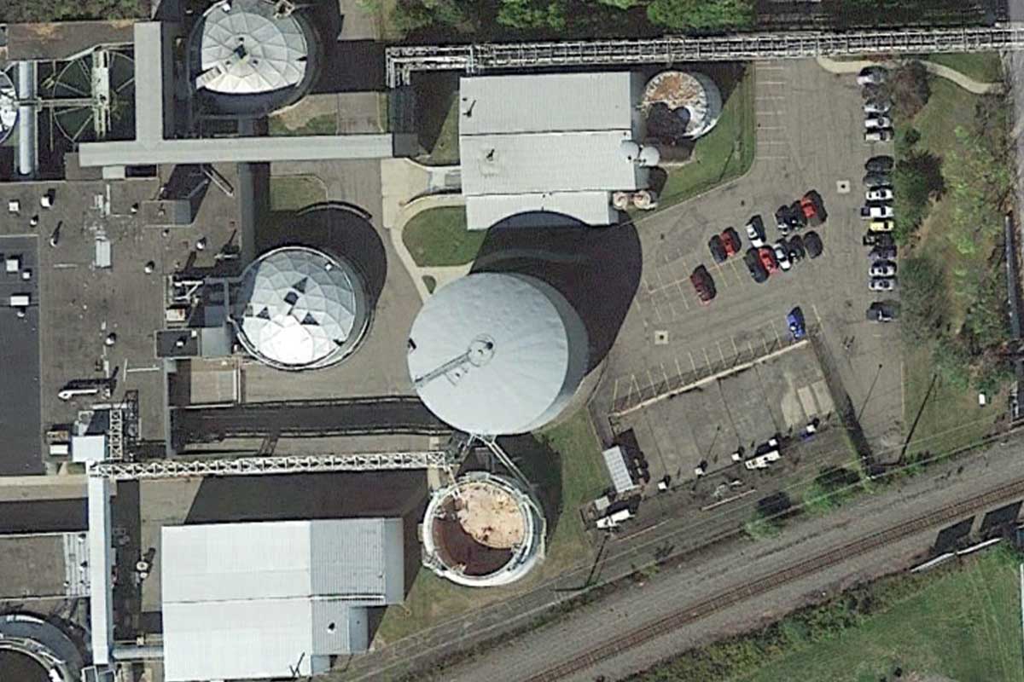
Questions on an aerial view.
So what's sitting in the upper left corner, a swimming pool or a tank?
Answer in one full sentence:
The feature located in the upper left corner is a tank.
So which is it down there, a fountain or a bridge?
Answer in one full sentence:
The image shows a bridge.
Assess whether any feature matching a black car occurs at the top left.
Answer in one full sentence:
No, there's no black car to be seen at the top left.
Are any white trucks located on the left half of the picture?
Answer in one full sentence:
No, looking on the left half of the picture, there is no white truck.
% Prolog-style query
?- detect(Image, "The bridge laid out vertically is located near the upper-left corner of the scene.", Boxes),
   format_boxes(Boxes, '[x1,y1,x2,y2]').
[93,49,108,138]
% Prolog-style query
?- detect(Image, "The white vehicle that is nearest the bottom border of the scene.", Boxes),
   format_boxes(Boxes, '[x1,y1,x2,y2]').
[594,510,630,529]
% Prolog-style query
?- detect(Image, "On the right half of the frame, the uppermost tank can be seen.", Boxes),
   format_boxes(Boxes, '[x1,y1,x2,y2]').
[636,71,720,138]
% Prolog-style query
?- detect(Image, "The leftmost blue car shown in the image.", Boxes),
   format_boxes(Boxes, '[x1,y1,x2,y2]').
[786,309,803,337]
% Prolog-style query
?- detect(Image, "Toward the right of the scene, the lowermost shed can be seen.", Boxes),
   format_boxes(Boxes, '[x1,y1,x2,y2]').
[603,446,639,495]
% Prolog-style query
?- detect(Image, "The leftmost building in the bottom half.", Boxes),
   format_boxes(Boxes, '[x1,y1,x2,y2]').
[0,534,72,598]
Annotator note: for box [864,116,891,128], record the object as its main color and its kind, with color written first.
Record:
white vehicle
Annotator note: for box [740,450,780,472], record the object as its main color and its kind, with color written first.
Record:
white truck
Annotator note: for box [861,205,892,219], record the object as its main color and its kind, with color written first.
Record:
white vehicle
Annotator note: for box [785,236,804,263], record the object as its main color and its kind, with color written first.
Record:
black car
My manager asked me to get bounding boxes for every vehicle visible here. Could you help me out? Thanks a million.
[869,304,896,317]
[870,220,893,233]
[868,248,895,260]
[784,204,803,232]
[773,209,791,236]
[863,233,895,247]
[785,236,804,263]
[744,252,764,280]
[866,189,892,201]
[863,101,890,113]
[715,228,738,260]
[861,129,893,142]
[865,157,893,170]
[786,309,803,337]
[861,205,892,219]
[691,272,711,299]
[594,510,630,529]
[868,263,895,275]
[707,235,726,263]
[868,277,895,290]
[771,243,790,270]
[745,218,763,245]
[864,173,891,186]
[864,116,891,128]
[758,246,776,273]
[801,231,821,258]
[858,69,886,83]
[740,450,780,472]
